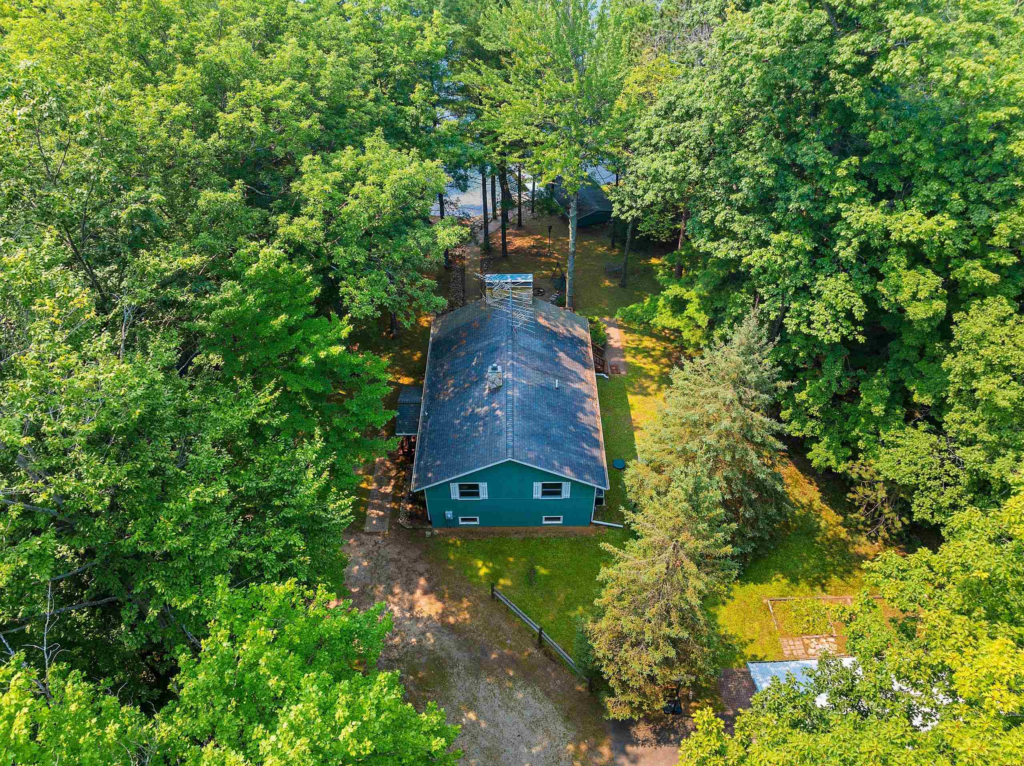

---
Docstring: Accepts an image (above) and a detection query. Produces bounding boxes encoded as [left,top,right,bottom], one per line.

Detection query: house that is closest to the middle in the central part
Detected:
[395,271,623,530]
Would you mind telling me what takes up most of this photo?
trees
